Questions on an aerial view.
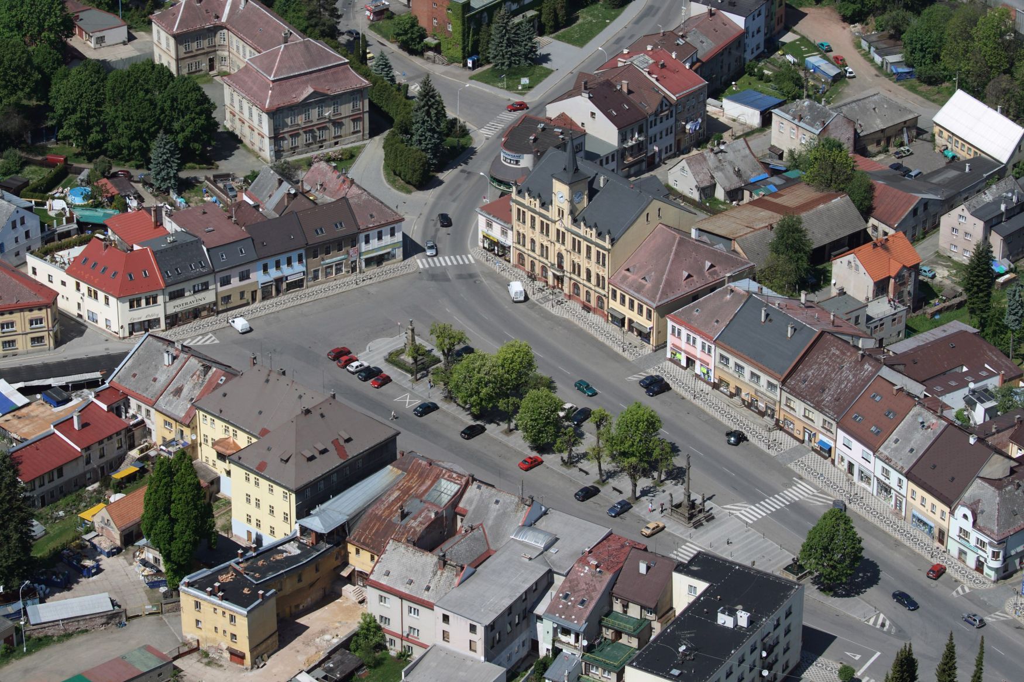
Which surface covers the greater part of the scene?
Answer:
buildings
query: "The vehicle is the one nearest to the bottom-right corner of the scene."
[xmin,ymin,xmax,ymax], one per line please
[959,611,989,628]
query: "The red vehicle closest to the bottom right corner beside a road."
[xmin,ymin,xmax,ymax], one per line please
[924,563,949,579]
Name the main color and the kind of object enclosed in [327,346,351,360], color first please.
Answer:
red car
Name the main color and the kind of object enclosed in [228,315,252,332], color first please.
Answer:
white vehicle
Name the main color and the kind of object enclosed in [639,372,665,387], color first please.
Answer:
black car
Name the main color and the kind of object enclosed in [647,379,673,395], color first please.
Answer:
black car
